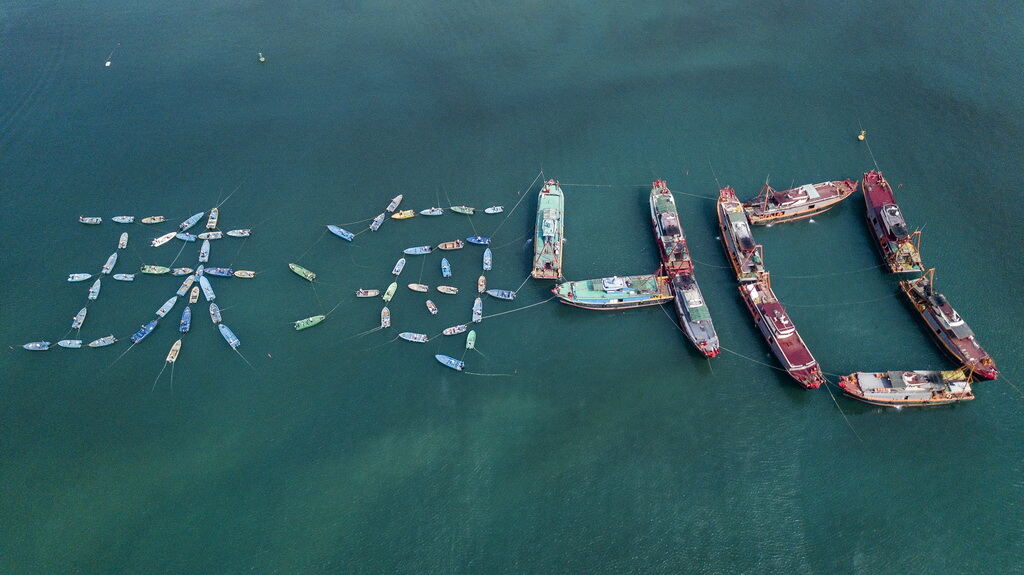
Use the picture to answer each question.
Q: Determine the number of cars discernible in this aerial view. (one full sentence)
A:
The photo contains no cars.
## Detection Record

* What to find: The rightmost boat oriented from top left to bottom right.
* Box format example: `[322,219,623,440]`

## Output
[900,269,1001,379]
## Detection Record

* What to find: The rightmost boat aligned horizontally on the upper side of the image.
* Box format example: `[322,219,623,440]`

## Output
[745,178,857,226]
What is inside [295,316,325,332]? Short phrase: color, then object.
green boat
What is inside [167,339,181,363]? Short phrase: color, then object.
white boat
